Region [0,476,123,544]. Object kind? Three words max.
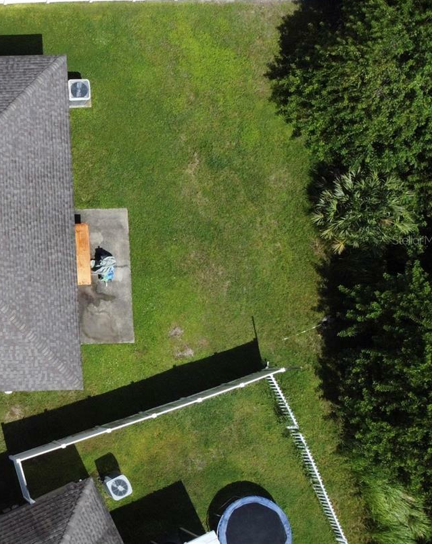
house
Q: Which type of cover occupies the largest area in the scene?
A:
grass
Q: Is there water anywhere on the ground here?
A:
No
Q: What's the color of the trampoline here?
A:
black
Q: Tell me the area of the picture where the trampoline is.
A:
bottom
